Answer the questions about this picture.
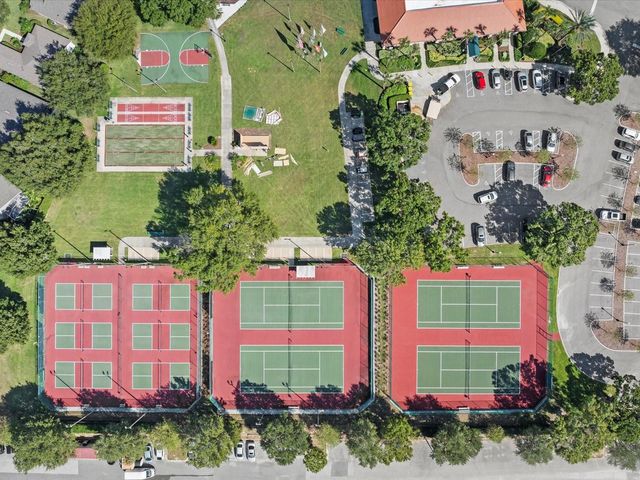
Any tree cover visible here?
Yes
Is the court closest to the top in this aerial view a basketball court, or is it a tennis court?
basketball court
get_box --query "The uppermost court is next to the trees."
[141,32,208,84]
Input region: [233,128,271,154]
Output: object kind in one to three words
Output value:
shed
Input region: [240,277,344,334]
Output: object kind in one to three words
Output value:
tennis court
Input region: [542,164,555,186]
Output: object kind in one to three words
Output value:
vehicle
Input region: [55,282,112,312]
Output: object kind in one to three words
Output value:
sports court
